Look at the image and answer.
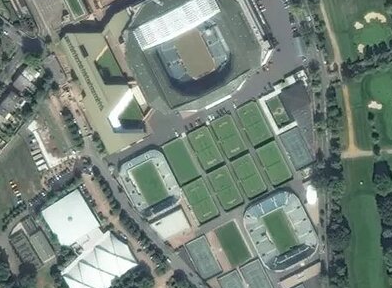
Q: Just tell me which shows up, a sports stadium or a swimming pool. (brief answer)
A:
sports stadium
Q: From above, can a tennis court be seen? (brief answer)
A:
Yes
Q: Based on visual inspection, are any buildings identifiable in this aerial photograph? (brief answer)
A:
Yes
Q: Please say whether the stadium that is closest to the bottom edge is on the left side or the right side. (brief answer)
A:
right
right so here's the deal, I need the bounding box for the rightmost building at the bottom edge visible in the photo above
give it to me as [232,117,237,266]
[280,263,321,288]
